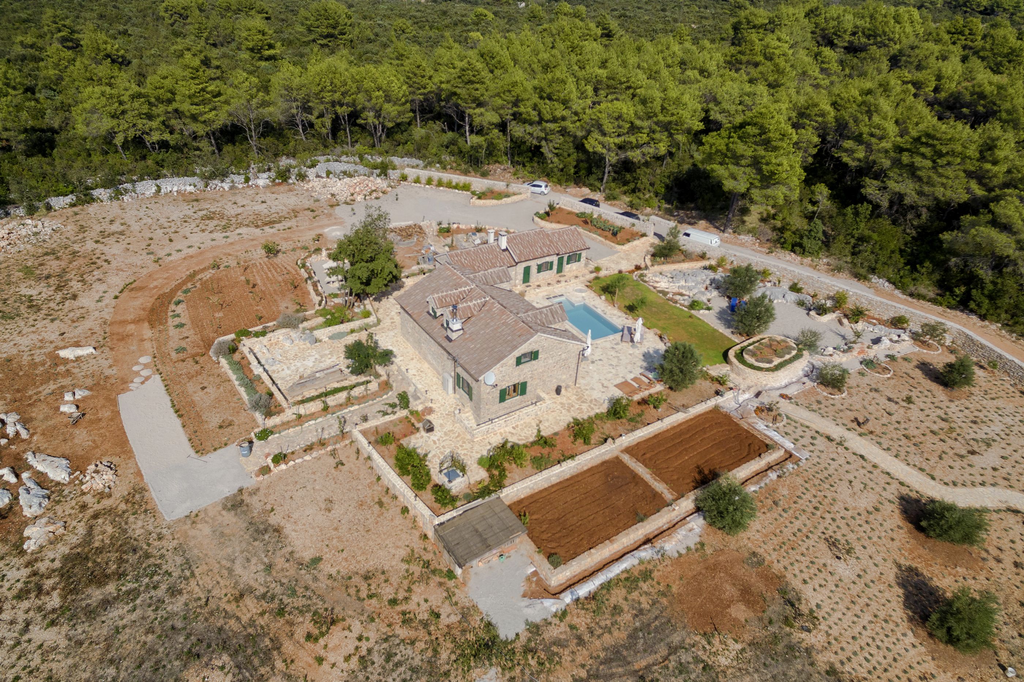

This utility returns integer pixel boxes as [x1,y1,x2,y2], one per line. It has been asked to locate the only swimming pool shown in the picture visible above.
[548,294,629,342]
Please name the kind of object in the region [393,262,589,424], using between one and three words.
house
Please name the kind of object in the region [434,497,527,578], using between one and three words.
shed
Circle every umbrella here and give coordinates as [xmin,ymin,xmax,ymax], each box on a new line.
[583,334,591,361]
[630,321,640,348]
